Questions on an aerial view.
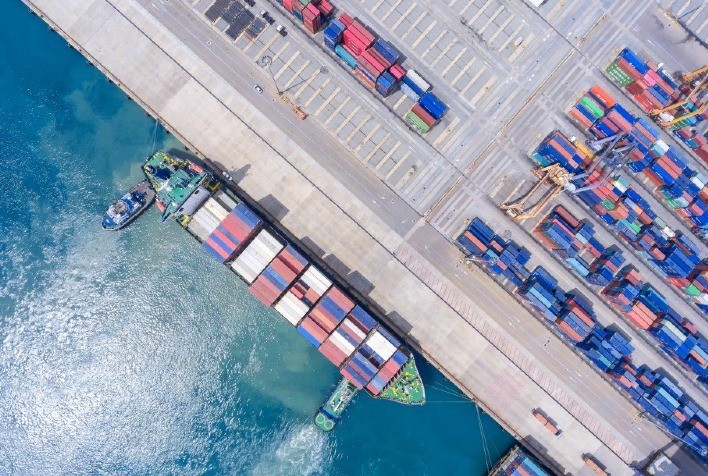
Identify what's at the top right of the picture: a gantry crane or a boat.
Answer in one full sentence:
There is a gantry crane at the top right of the picture.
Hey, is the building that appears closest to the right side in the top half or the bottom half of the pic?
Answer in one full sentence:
The building that appears closest to the right side is in the bottom half of the image.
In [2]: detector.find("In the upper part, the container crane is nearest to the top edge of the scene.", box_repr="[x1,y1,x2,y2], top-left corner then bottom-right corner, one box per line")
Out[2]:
[652,66,708,131]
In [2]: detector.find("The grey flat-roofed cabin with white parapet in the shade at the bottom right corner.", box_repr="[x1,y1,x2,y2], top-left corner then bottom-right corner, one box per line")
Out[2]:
[637,441,679,476]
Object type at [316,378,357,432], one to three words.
boat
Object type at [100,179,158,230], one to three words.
boat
